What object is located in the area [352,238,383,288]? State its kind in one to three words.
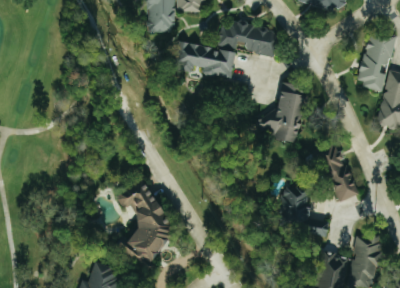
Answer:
house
